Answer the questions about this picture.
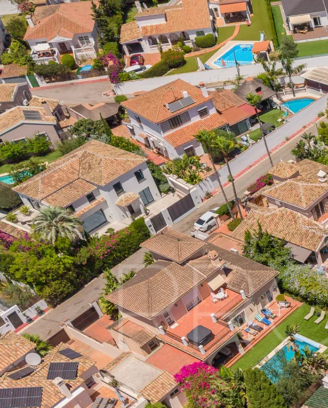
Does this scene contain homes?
Yes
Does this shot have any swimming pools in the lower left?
No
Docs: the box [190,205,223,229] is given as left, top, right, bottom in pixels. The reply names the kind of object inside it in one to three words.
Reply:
car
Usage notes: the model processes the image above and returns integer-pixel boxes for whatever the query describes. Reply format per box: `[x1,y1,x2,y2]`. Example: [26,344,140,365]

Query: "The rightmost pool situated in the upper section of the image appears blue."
[279,96,317,116]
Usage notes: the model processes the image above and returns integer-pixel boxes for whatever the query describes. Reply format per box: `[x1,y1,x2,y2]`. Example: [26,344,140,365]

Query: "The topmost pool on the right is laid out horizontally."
[204,41,273,67]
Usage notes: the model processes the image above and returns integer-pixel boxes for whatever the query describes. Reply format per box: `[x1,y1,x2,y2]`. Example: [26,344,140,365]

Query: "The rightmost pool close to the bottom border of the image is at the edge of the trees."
[257,332,327,389]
